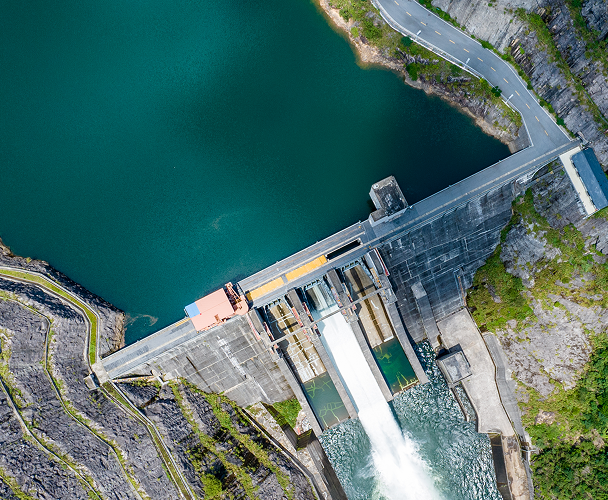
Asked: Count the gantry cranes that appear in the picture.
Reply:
1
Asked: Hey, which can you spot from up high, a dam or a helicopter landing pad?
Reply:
dam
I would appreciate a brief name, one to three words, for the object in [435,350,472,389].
house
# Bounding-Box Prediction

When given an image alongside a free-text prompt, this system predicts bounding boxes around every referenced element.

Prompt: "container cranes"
[185,276,252,333]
